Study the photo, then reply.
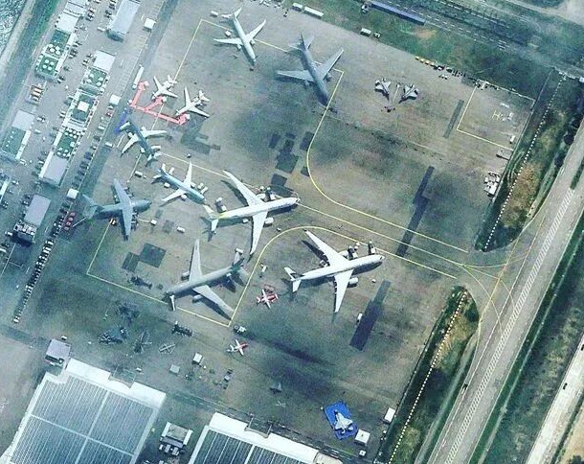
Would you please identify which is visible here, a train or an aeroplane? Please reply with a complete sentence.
I can see an aeroplane in this picture.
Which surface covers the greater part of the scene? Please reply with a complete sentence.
The largest share of the image is taken up by paved ground.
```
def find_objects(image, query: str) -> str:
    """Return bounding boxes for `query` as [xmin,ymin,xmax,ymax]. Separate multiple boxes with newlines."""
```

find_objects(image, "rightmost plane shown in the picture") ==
[399,83,417,103]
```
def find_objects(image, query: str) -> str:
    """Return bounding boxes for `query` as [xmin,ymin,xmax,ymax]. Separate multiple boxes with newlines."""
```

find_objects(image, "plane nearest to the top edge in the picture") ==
[218,9,270,63]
